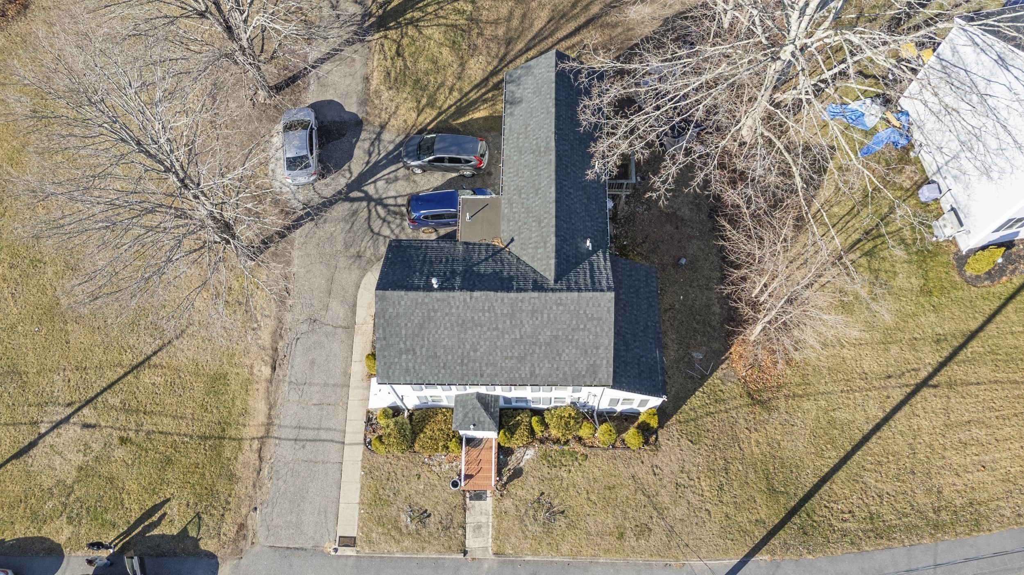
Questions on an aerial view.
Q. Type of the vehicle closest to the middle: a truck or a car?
car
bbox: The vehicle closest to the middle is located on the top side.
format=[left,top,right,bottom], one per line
[405,182,492,232]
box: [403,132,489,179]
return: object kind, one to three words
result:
car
